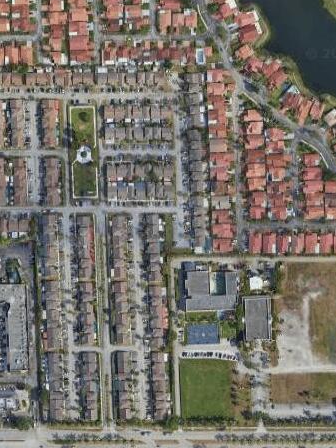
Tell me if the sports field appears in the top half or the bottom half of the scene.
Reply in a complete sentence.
The bottom half of the photo is where the sports field is.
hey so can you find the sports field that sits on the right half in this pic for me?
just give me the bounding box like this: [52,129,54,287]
[180,360,231,420]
